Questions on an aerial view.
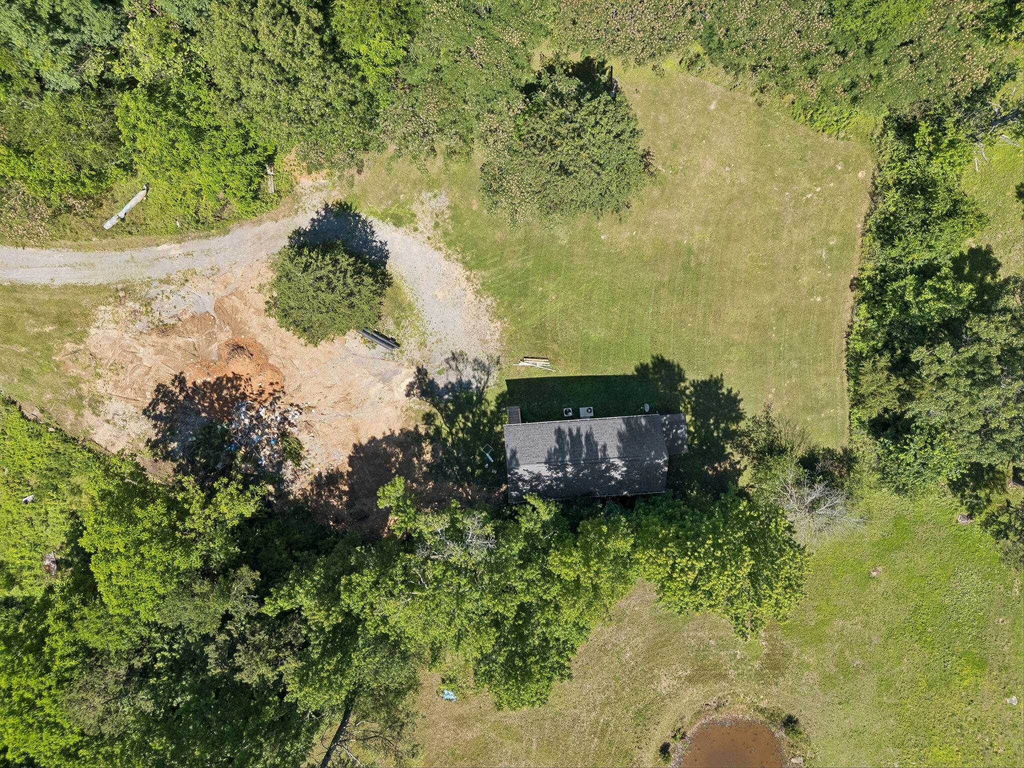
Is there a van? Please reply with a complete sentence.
No, there's no van here.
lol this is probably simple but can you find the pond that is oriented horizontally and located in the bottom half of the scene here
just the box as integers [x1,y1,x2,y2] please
[672,714,789,768]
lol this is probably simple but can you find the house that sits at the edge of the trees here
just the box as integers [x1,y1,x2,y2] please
[504,412,688,508]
